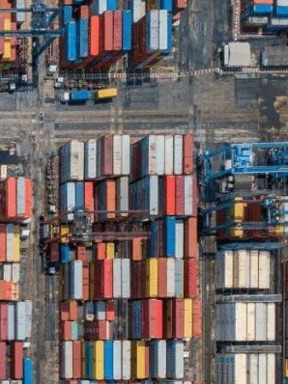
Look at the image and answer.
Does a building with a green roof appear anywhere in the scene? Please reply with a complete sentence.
No, I can't see a single building with a green roof in this photo.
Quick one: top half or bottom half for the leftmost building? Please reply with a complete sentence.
You can find the leftmost building in the top half.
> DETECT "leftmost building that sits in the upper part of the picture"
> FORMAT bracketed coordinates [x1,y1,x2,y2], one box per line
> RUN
[224,39,261,67]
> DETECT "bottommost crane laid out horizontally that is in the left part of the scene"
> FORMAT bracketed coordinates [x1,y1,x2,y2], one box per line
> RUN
[41,208,156,248]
